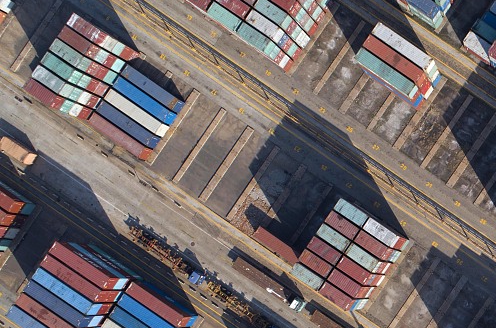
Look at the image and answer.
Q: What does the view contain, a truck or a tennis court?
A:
truck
